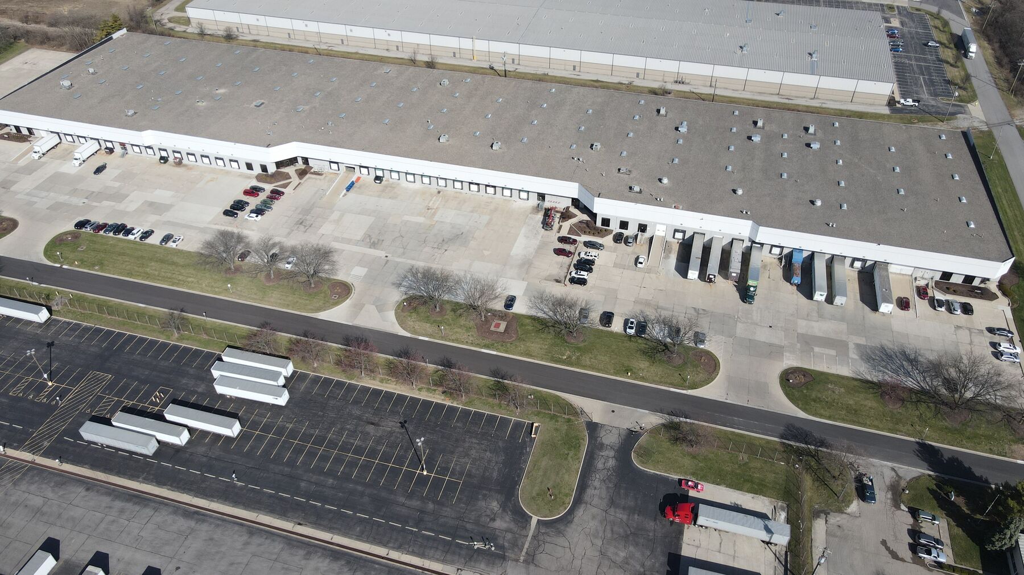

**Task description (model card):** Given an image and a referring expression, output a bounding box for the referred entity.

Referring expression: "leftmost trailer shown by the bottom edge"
[17,549,58,575]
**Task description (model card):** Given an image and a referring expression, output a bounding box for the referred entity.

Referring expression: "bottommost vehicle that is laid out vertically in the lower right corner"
[860,468,878,505]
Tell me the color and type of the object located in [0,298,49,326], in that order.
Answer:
white trailer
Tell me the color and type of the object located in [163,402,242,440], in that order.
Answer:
white trailer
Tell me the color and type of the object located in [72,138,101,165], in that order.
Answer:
white truck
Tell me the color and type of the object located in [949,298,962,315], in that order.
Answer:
gray vehicle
